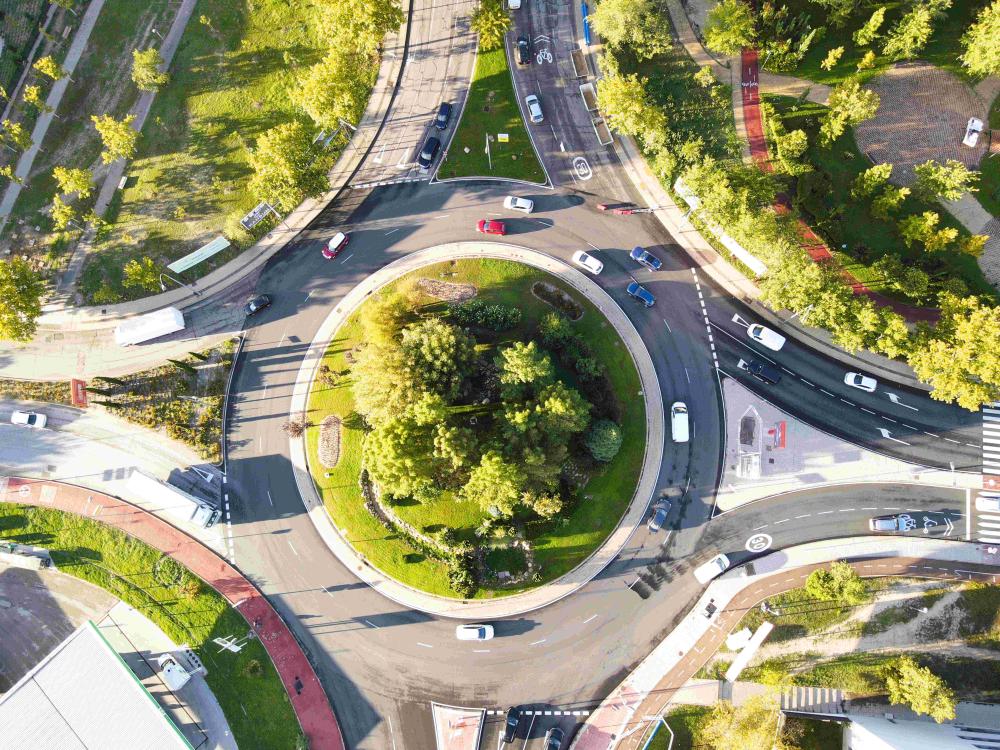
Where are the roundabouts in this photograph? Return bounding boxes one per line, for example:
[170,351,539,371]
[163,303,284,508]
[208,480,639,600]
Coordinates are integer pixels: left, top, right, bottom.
[222,179,725,713]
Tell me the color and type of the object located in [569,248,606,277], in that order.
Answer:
white car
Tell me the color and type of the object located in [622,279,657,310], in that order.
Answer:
blue car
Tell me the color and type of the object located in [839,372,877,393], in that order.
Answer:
white car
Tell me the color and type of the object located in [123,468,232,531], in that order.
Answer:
white truck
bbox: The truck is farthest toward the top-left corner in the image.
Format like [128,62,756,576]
[123,310,192,347]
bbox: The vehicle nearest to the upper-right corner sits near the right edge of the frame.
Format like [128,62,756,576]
[956,117,985,150]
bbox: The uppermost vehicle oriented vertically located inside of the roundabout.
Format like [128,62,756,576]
[669,400,689,442]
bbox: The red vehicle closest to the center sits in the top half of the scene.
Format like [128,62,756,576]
[475,220,508,237]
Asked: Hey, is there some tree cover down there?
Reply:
Yes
